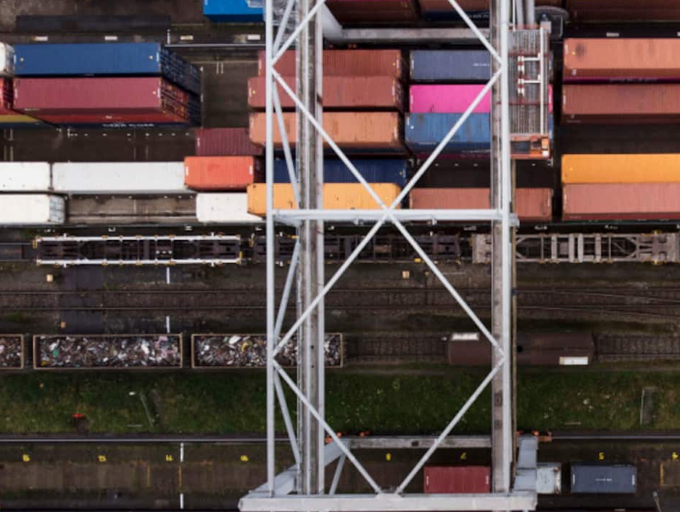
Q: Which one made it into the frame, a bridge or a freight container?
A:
freight container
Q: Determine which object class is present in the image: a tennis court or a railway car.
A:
railway car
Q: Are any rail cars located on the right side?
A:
Yes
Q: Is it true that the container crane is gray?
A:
Yes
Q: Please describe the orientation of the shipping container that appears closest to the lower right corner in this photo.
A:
from side to side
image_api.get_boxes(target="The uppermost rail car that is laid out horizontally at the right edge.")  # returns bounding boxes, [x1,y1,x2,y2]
[468,233,680,265]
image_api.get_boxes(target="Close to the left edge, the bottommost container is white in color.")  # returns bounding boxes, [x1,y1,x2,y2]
[0,194,67,224]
